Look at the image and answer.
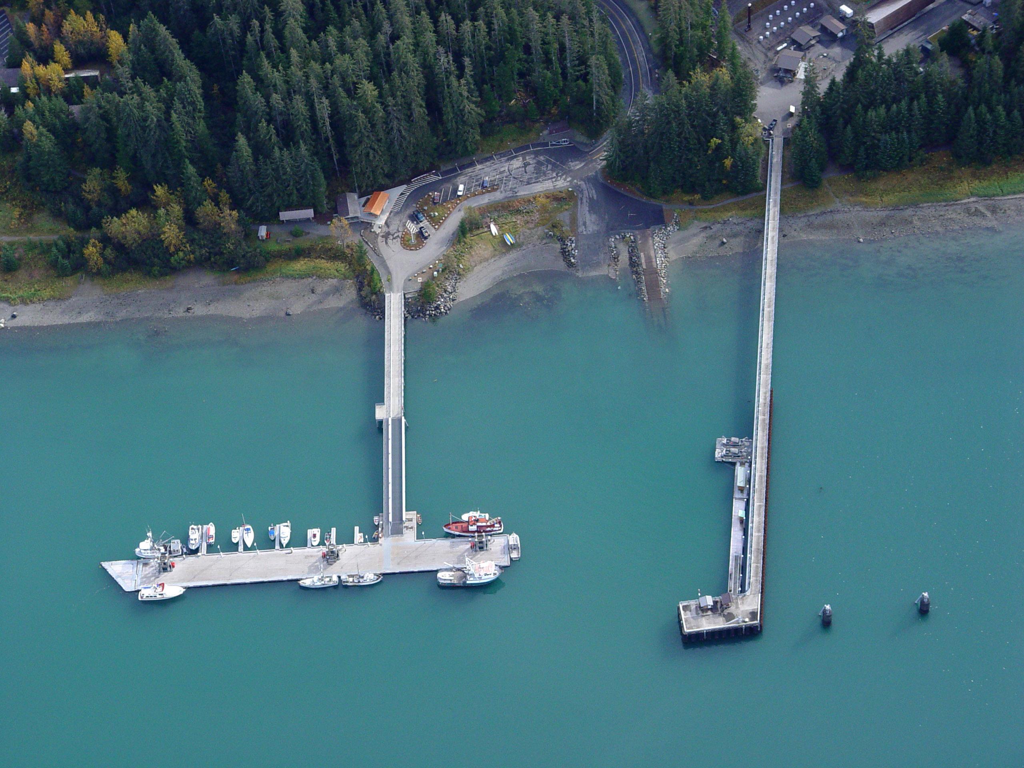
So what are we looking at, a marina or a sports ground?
marina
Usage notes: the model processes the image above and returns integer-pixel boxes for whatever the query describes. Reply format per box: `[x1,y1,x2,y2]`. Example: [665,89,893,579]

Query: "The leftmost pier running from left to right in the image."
[101,534,510,593]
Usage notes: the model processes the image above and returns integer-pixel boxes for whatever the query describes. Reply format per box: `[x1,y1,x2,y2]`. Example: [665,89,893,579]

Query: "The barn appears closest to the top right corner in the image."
[961,2,1001,33]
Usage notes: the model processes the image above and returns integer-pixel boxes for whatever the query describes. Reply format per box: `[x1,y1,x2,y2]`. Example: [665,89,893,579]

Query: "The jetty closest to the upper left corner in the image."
[384,290,405,418]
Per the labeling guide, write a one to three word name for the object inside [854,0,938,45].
building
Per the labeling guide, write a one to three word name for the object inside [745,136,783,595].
pier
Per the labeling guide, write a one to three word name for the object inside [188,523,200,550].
boat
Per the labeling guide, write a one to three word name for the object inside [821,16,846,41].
shed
